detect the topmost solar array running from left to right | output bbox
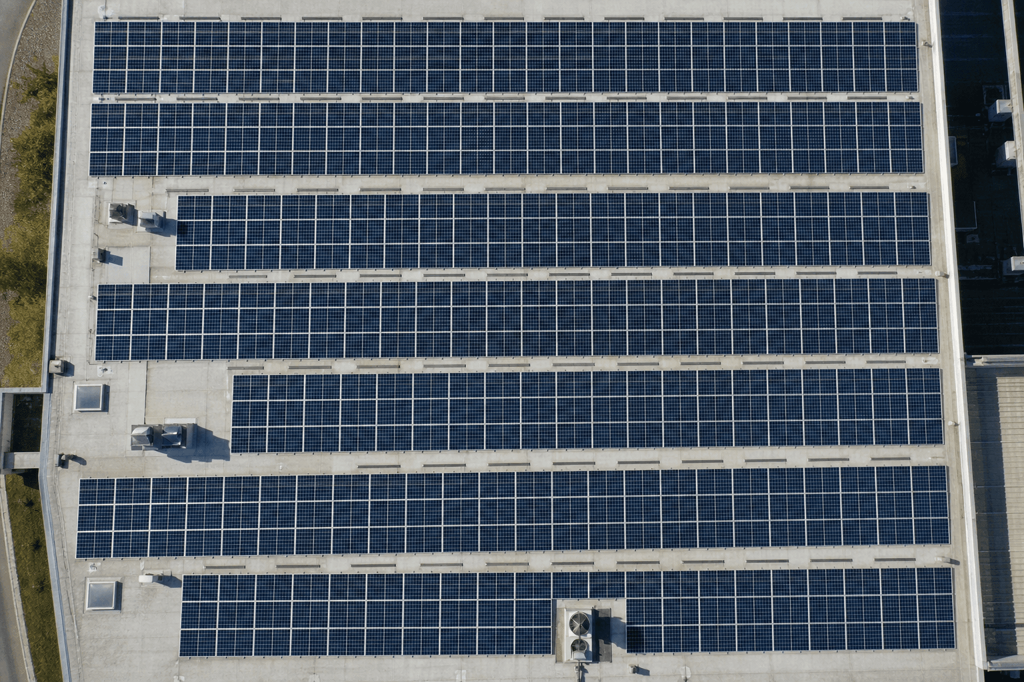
[92,22,919,95]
